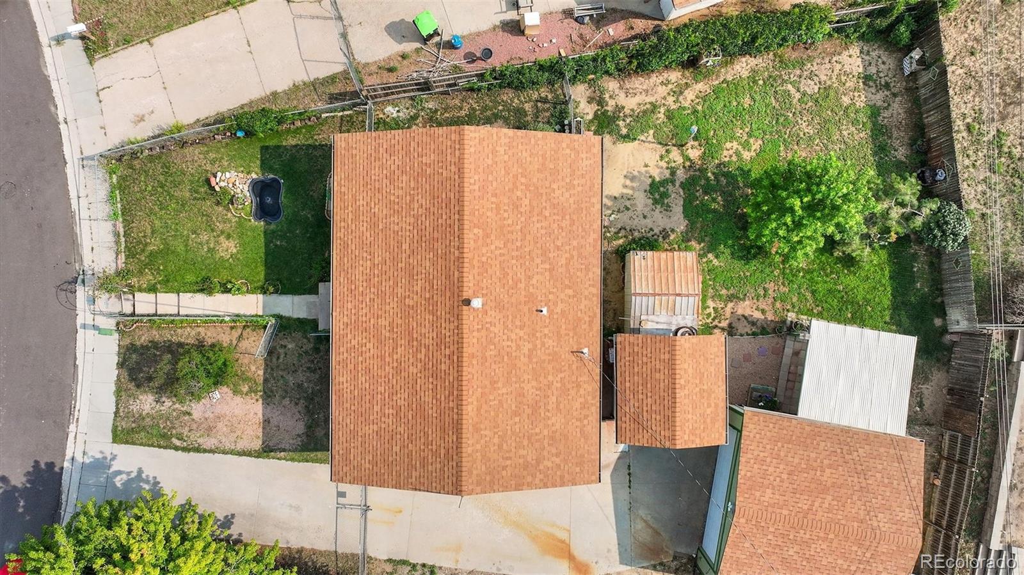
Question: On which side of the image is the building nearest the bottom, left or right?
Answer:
right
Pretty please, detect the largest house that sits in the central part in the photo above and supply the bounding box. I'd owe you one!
[329,125,604,494]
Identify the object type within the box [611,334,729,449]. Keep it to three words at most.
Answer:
shed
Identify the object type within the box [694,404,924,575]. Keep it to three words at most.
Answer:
building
